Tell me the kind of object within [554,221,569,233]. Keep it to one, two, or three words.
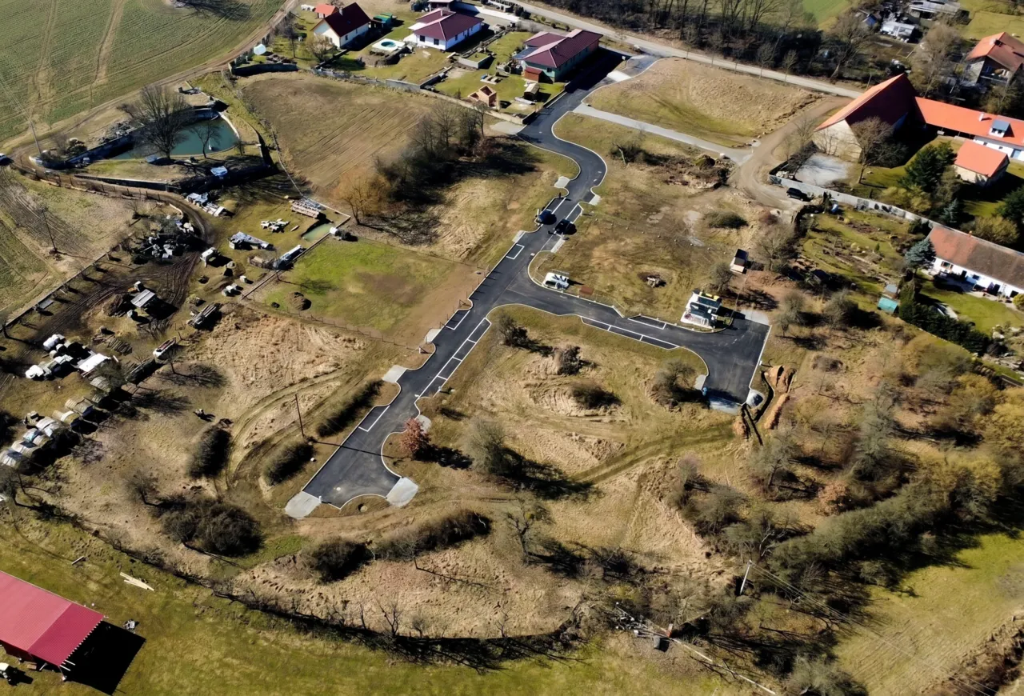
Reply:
vehicle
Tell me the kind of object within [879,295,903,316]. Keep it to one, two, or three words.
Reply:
shed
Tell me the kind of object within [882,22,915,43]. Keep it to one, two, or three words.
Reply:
greenhouse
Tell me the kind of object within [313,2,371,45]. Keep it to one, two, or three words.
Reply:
house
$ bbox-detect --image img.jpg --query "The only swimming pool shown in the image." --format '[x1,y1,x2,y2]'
[371,36,406,54]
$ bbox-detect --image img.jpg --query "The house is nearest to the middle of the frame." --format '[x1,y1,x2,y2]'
[679,285,722,329]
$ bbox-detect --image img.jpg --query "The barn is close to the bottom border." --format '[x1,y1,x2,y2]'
[0,571,108,679]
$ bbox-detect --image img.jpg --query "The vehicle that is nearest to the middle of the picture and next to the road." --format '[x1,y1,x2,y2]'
[543,272,568,287]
